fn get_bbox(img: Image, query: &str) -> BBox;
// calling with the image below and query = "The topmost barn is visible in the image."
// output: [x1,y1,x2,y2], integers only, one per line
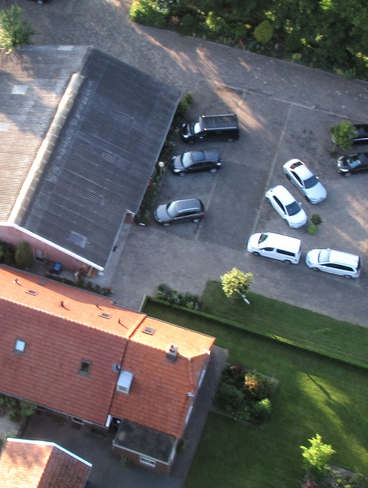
[0,46,179,279]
